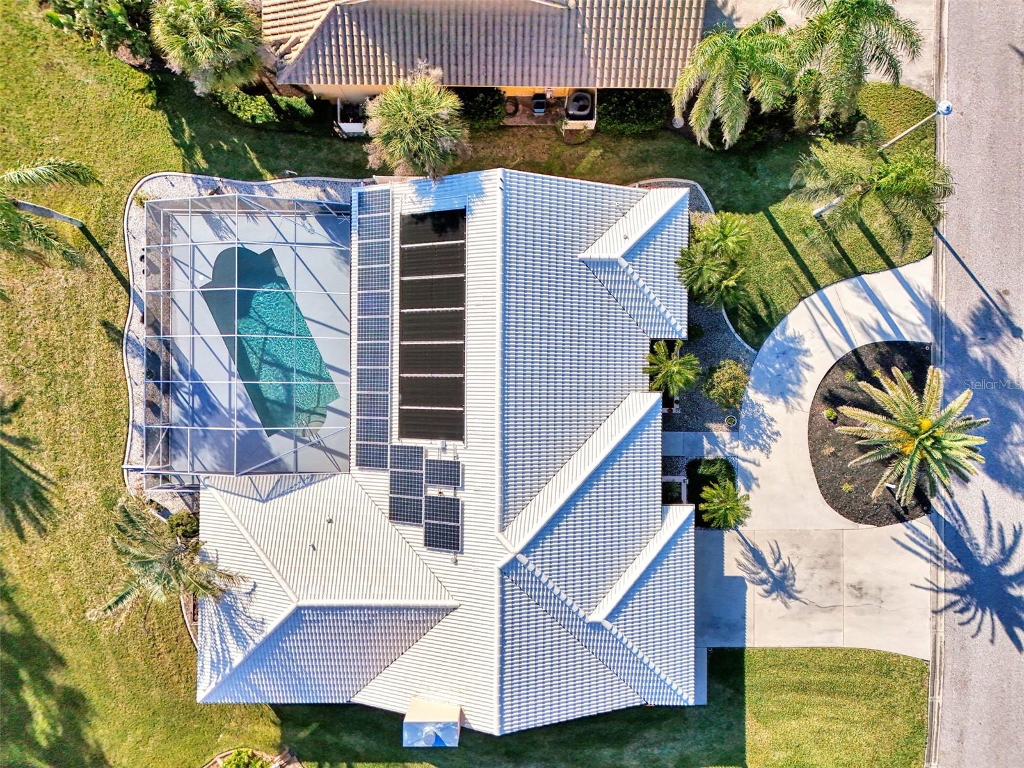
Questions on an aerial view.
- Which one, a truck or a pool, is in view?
pool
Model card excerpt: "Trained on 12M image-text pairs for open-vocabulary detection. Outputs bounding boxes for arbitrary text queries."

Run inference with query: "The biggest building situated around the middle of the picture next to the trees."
[196,167,698,749]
